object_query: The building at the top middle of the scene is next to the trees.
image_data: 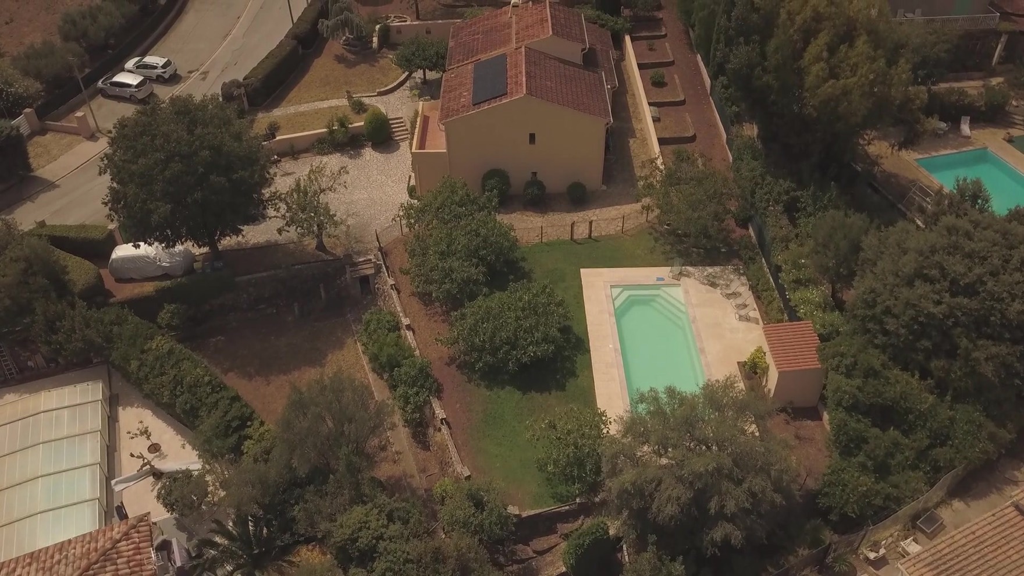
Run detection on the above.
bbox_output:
[412,0,620,195]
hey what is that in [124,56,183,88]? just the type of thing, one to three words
car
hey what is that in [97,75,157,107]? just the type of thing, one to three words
car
